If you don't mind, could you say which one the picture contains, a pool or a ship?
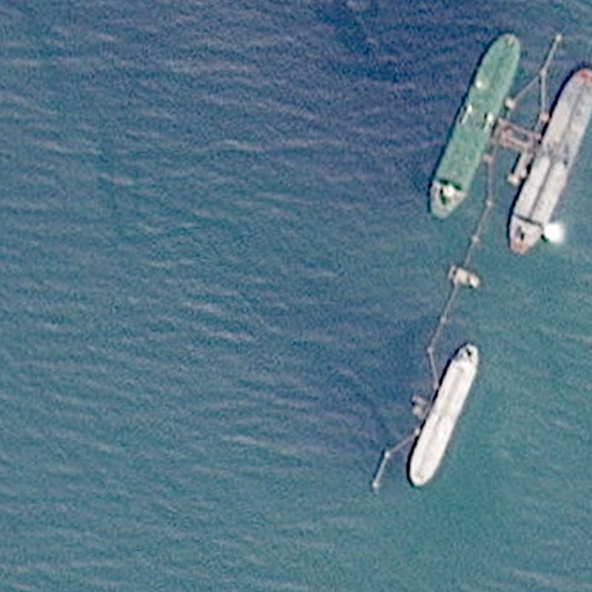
ship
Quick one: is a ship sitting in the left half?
No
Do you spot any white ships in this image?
Yes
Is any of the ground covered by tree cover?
No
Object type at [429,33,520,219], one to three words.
ship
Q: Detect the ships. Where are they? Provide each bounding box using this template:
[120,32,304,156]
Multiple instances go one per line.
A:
[429,33,520,219]
[410,342,480,487]
[510,68,592,255]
